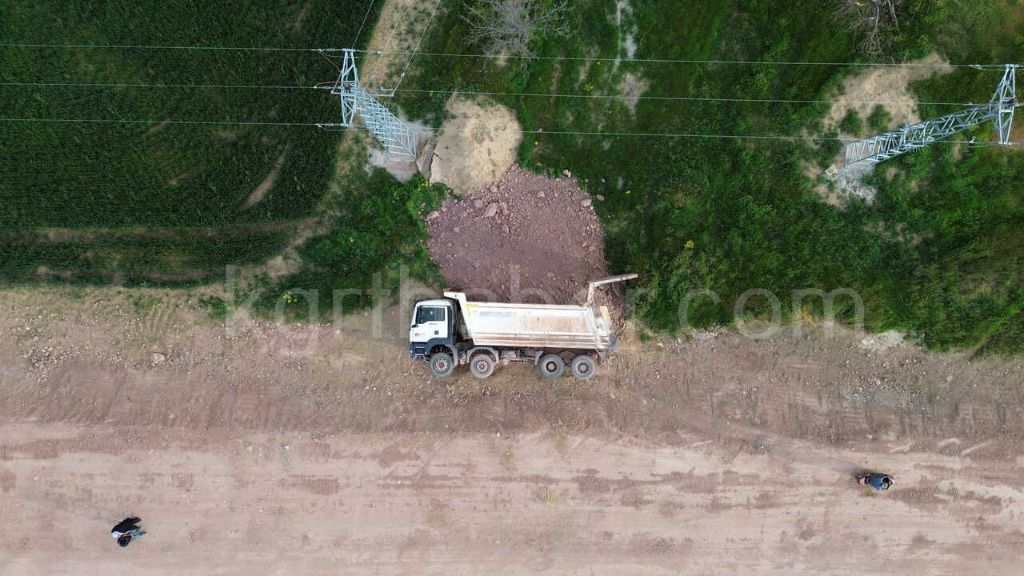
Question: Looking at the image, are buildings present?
No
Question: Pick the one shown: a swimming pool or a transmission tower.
transmission tower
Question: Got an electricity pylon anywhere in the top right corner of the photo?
Yes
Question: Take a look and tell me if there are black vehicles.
No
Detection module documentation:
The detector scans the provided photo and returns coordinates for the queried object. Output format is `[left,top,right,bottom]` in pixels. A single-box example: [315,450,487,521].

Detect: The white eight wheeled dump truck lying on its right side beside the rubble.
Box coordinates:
[410,274,639,380]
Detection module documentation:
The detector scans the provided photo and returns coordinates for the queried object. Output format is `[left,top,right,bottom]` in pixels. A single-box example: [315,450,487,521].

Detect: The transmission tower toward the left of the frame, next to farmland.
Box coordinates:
[314,45,421,159]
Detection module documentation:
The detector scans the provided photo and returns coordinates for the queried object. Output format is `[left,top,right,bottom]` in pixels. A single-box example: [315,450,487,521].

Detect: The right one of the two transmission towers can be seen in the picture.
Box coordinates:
[836,61,1024,171]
